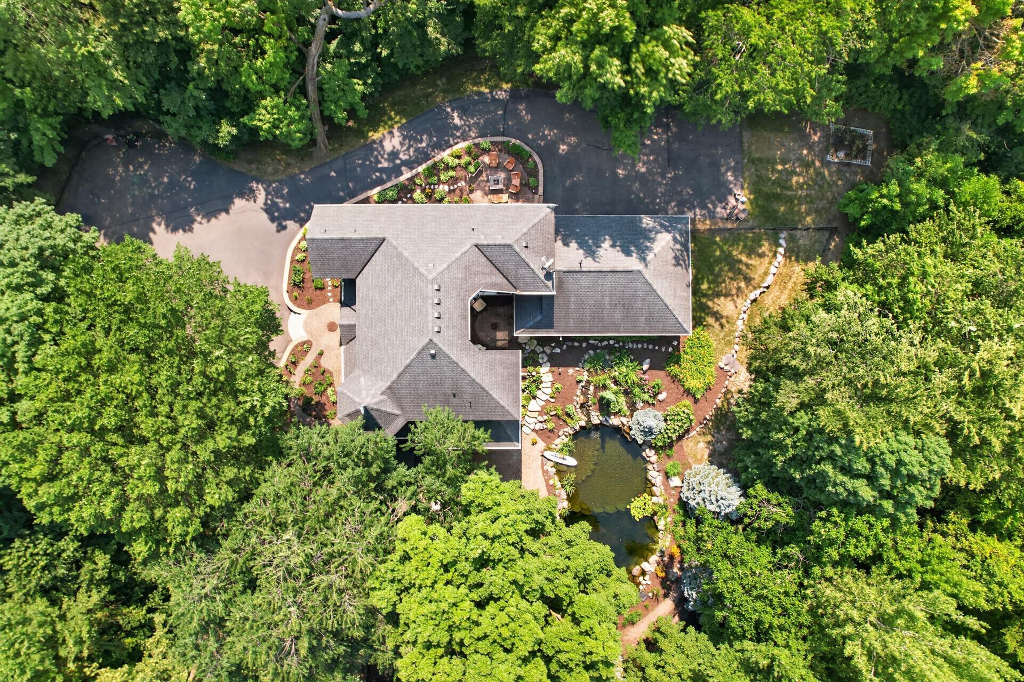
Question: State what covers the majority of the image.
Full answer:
Most of the picture is covered by trees.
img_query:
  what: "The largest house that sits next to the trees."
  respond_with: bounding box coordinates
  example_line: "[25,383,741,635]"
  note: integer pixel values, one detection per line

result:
[305,202,692,449]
